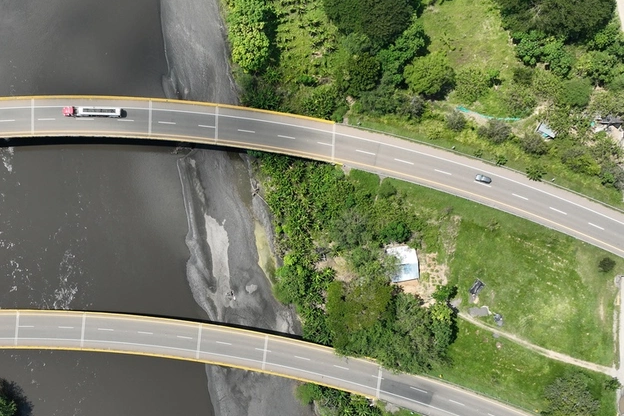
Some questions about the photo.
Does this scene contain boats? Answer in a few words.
No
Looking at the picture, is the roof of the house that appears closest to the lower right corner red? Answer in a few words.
No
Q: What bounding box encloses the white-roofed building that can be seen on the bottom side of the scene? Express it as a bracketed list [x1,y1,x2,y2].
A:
[386,248,419,283]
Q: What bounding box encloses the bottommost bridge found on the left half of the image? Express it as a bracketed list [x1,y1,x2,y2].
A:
[0,310,386,400]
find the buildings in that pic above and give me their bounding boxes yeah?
[594,117,623,135]
[386,248,419,283]
[533,120,556,139]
